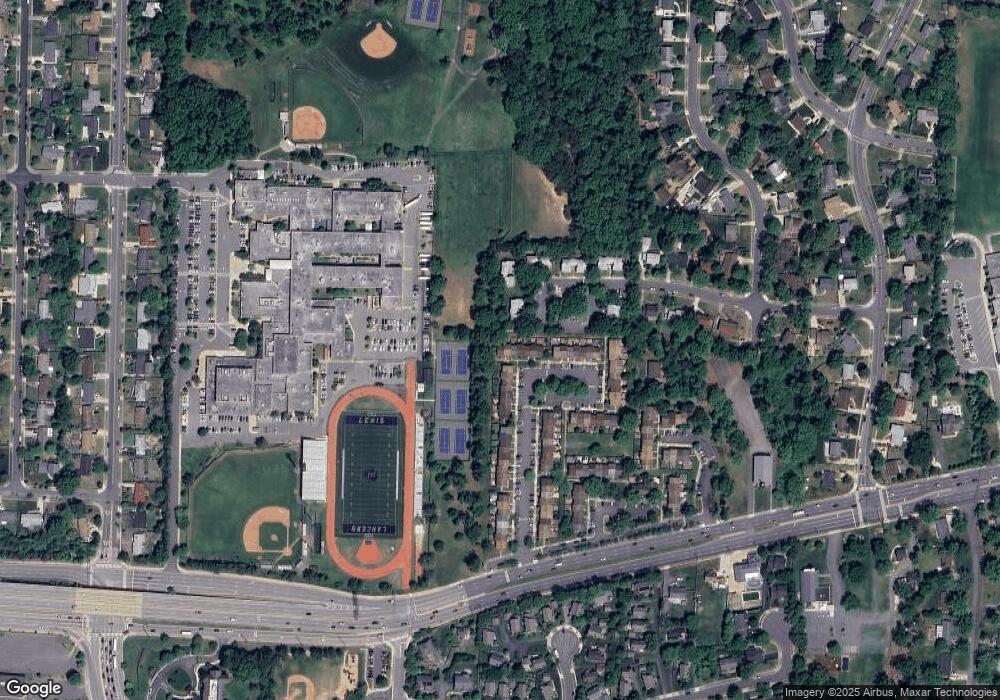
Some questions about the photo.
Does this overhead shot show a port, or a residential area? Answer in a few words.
residential area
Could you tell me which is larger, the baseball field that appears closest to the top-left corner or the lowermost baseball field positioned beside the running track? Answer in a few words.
the lowermost baseball field positioned beside the running track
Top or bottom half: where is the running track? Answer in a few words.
bottom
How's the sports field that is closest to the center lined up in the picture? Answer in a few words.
up and down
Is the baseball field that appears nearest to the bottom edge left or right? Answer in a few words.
left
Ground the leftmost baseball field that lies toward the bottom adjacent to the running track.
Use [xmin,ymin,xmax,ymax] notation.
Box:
[243,506,300,562]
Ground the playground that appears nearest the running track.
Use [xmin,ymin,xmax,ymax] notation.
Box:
[338,653,359,700]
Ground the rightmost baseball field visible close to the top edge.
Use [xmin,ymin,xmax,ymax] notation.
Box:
[360,22,396,59]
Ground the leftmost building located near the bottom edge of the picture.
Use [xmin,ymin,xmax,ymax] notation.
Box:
[195,668,228,700]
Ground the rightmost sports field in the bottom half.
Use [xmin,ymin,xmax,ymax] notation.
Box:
[337,409,404,538]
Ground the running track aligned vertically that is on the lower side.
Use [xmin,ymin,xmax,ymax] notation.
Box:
[327,361,425,590]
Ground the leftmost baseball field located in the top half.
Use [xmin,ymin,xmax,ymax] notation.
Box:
[293,106,326,140]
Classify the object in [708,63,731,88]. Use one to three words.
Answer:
house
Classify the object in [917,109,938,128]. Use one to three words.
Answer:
house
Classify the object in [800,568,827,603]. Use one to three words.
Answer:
building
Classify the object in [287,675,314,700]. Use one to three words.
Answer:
baseball field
